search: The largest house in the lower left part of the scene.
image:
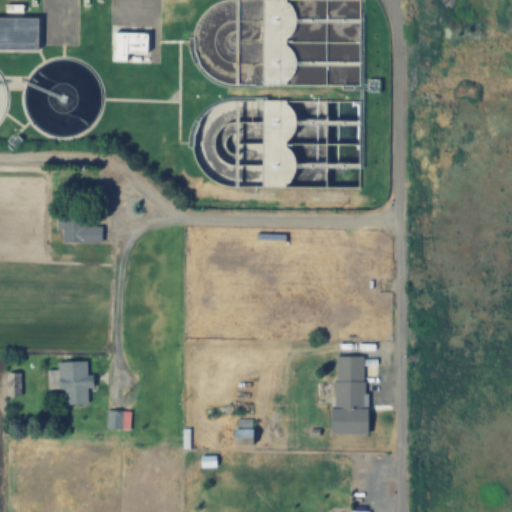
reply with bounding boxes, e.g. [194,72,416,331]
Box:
[58,362,94,406]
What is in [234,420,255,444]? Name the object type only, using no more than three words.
barn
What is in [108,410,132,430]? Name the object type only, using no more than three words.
building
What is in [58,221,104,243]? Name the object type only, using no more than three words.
house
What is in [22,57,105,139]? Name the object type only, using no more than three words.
storage tank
